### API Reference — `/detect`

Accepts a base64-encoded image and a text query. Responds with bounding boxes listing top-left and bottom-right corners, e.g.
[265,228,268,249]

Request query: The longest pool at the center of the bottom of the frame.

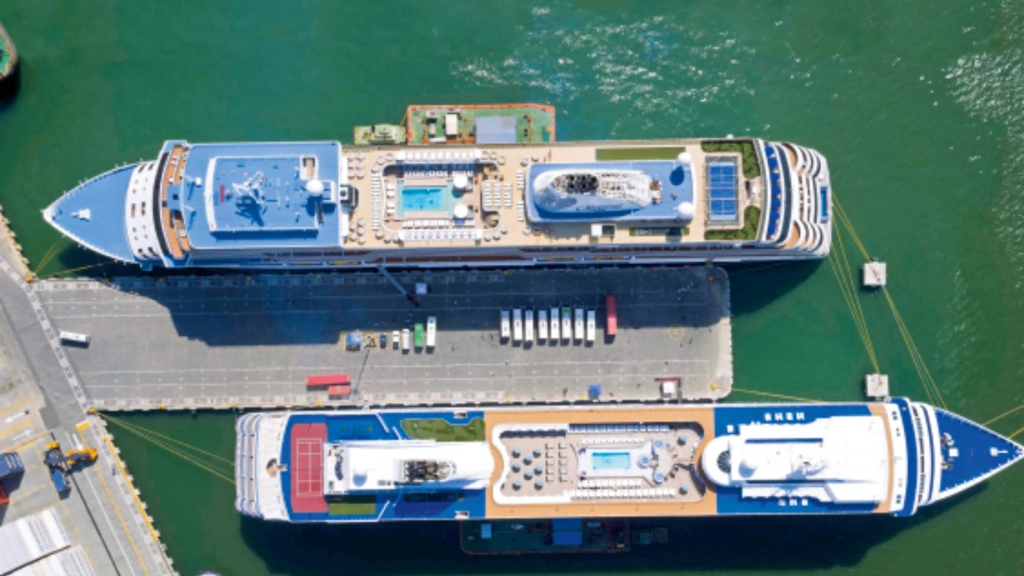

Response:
[592,451,631,471]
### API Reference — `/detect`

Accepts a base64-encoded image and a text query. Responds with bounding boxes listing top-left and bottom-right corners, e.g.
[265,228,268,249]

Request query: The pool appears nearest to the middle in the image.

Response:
[401,186,445,212]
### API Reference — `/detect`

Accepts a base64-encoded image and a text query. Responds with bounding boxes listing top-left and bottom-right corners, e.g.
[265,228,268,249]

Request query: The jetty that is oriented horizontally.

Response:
[32,265,735,413]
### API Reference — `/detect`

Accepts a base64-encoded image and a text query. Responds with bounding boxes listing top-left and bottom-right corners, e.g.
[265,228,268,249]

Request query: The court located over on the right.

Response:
[706,152,744,225]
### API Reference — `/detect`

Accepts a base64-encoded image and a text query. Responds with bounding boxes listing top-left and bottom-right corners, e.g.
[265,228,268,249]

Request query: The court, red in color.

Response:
[292,423,328,513]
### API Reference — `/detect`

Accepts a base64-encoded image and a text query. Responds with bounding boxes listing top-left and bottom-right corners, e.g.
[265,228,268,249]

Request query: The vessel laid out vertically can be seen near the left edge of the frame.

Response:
[0,33,24,87]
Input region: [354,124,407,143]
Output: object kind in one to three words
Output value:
boat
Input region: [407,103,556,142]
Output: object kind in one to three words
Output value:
ship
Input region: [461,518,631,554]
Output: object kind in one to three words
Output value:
ship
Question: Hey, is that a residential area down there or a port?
port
